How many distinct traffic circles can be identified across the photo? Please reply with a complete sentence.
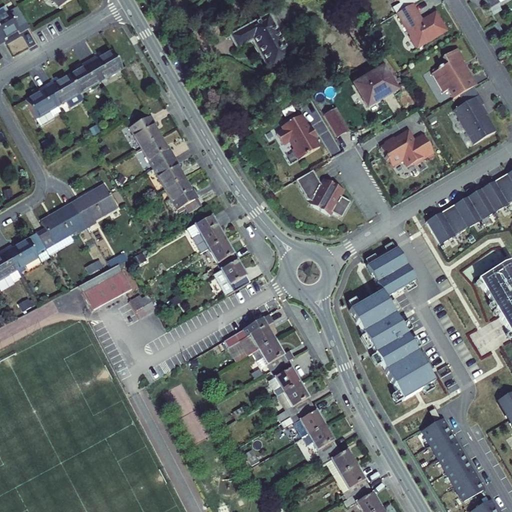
Only 1 traffic circle is visible.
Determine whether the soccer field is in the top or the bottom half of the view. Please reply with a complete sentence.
The bottom half of the photo is where the soccer field is.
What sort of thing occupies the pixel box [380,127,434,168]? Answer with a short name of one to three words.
house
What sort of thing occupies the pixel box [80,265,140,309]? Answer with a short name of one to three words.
building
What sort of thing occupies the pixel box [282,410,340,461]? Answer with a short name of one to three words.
house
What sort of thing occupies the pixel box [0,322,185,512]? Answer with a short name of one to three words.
soccer field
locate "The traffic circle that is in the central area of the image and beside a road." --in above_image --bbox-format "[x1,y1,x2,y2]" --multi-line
[252,212,356,346]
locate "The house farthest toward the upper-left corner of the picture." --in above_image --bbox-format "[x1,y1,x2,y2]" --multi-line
[0,6,30,56]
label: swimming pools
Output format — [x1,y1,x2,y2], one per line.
[314,92,325,103]
[324,86,336,100]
